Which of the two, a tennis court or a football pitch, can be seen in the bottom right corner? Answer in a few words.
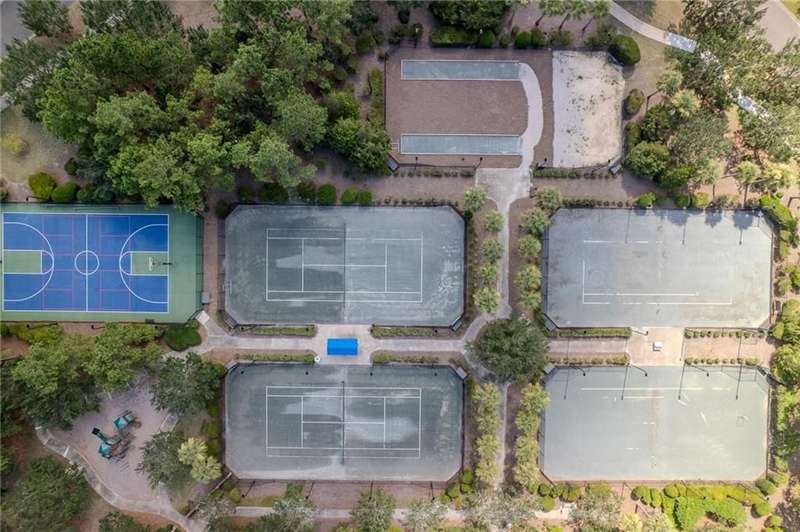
tennis court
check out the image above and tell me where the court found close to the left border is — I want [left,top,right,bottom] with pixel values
[0,203,203,323]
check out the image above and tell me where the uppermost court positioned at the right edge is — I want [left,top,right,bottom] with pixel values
[544,207,773,328]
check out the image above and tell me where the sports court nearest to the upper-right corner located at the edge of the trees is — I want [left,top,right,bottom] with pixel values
[553,50,623,167]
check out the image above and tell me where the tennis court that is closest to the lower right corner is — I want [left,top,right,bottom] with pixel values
[540,365,771,482]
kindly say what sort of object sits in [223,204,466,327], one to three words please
tennis court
